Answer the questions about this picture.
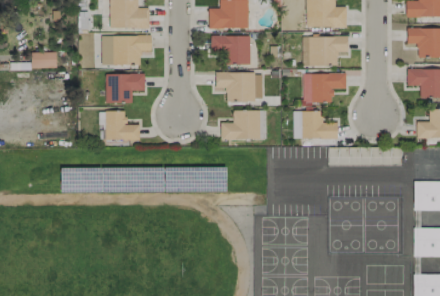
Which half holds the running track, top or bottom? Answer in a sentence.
Seen from above, the running track lies in the bottom half of the view.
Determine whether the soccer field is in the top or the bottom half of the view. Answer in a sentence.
It is in the bottom half that the soccer field appears.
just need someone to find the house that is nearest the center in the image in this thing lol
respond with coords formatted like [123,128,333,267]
[220,110,266,140]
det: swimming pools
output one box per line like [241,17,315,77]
[258,8,274,27]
